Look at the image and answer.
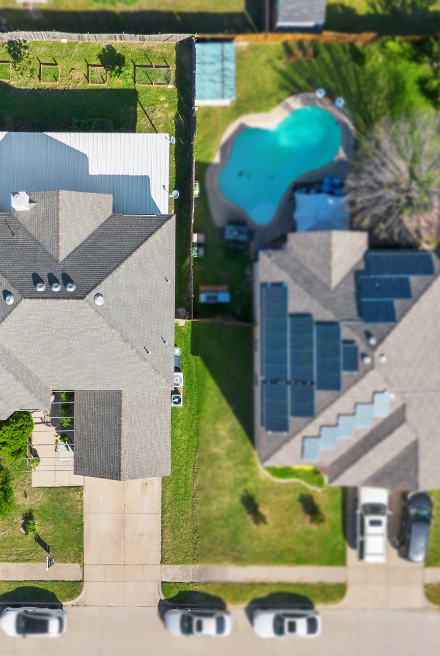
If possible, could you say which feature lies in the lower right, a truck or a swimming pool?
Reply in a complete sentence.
Looking in the lower right, you will find a truck.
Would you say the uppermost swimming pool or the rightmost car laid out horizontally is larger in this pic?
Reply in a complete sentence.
Of the two, the swimming pool is bigger, while the car is smaller.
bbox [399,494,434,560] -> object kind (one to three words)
car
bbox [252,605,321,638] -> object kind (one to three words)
car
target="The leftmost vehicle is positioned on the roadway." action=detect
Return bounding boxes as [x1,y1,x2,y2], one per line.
[0,603,66,637]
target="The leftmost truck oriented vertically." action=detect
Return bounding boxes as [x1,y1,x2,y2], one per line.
[358,487,392,562]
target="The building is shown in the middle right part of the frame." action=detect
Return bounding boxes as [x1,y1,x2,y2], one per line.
[253,232,440,498]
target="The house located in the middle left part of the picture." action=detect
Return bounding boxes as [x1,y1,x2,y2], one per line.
[0,193,175,483]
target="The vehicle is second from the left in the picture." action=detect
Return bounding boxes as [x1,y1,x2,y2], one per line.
[164,604,231,637]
